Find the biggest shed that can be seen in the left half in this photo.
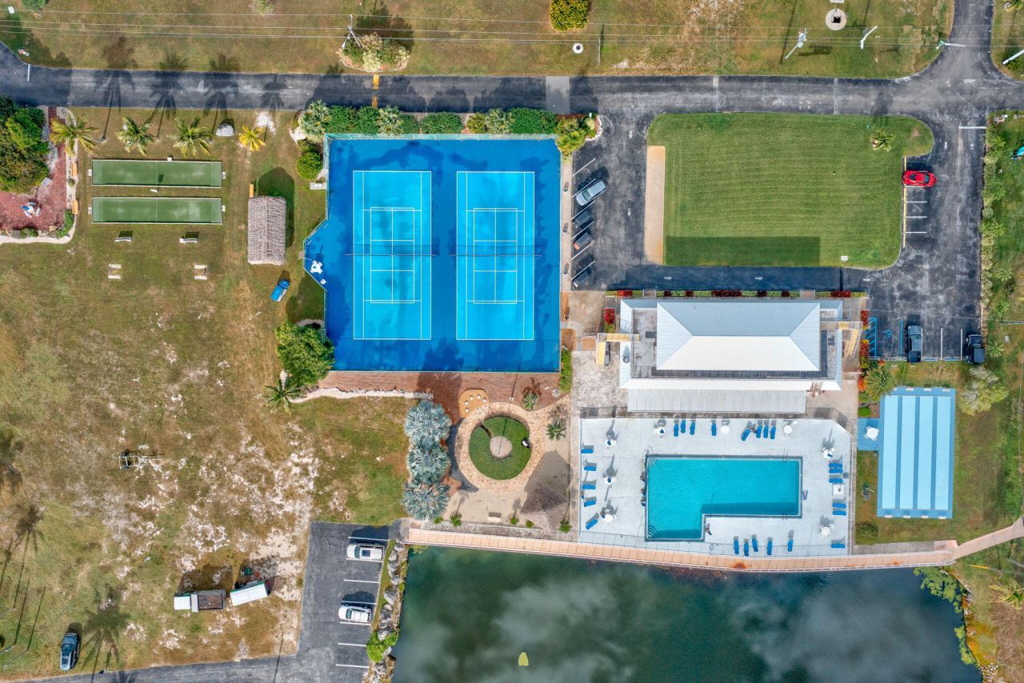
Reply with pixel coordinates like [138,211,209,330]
[244,195,294,267]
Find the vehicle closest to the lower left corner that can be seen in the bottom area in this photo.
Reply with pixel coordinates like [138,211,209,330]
[59,633,81,669]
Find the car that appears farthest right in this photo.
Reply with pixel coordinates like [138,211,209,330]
[963,333,985,365]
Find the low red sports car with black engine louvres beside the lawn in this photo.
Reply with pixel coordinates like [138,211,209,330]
[902,169,937,186]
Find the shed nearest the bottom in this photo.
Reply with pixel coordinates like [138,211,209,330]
[519,480,569,532]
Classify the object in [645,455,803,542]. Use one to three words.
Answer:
swimming pool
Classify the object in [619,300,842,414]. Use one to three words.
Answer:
building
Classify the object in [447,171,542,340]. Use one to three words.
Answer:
tennis court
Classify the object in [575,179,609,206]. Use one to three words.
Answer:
car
